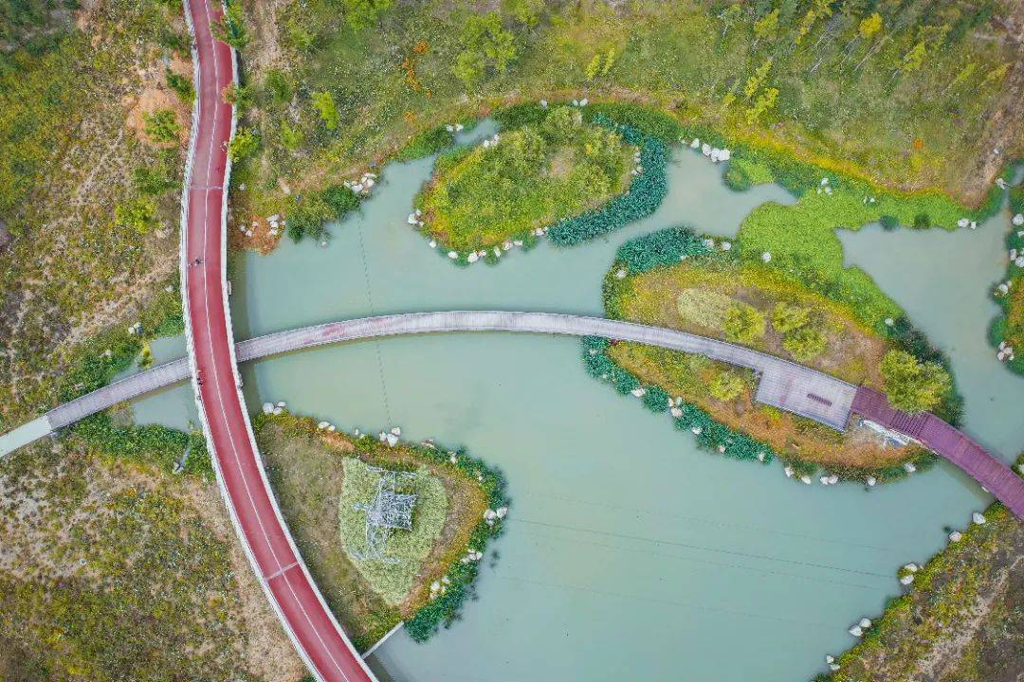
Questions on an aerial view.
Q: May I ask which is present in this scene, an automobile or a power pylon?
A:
power pylon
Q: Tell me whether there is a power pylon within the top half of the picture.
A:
No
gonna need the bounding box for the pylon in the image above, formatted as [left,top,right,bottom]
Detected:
[352,467,418,563]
